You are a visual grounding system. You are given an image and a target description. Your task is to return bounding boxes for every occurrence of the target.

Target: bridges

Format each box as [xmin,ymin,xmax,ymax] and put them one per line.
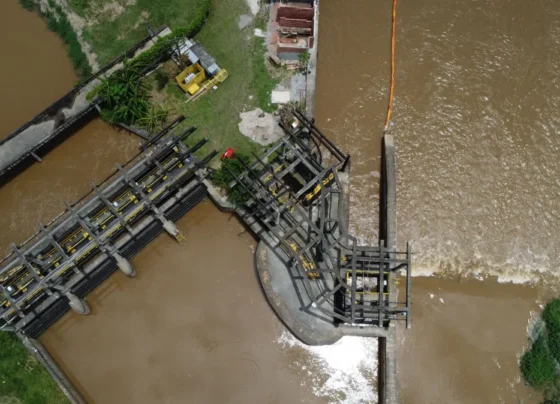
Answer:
[0,115,220,344]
